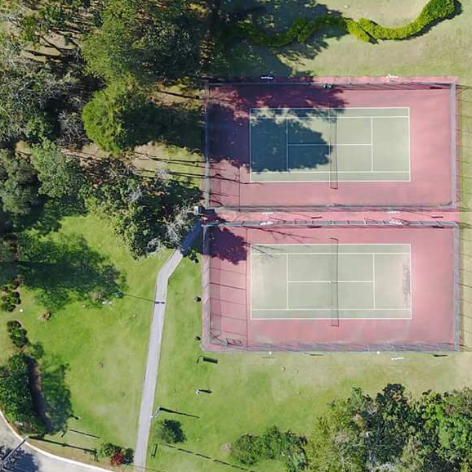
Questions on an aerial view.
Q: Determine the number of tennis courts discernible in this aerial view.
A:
two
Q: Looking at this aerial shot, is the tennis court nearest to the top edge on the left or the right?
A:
right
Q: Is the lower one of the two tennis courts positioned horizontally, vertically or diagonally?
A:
horizontally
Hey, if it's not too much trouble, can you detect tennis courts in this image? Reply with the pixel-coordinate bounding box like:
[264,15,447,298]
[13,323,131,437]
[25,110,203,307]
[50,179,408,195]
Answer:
[201,77,459,211]
[202,224,460,351]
